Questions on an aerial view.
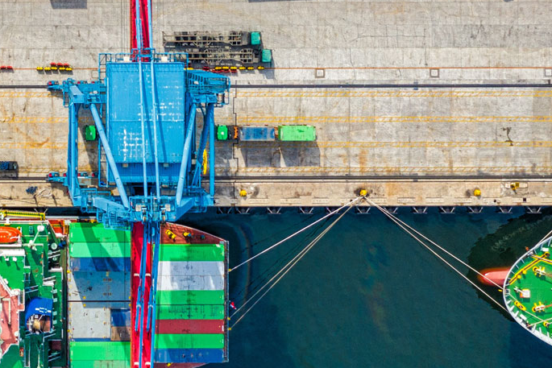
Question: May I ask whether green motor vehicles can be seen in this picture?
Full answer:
Yes, looking at the shot, I can spot a green motor vehicle.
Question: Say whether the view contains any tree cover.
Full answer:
No, there's no tree cover in this view.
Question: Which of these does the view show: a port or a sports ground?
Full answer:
This image shows a port.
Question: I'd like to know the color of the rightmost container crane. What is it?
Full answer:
From above, the rightmost container crane appears blue.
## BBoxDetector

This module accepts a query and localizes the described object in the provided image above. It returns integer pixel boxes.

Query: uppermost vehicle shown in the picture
[166,31,264,48]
